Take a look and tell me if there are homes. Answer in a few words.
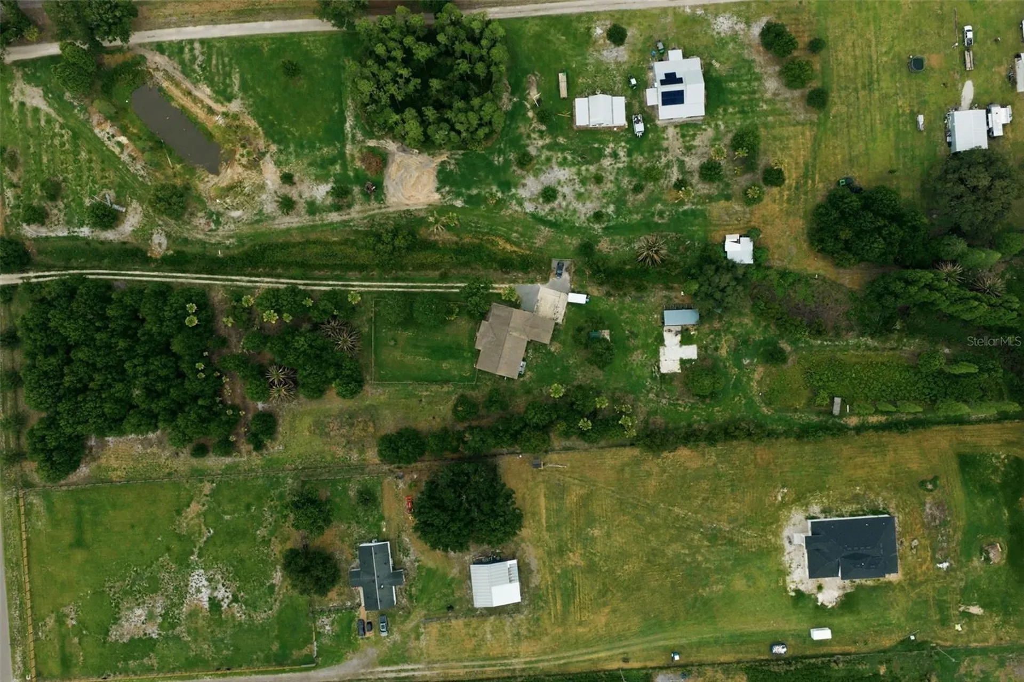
Yes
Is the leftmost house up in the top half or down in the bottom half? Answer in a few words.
bottom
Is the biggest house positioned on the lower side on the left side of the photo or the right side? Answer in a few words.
right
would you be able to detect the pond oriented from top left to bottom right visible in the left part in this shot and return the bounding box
[135,85,222,176]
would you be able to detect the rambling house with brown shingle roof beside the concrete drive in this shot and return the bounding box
[476,303,555,379]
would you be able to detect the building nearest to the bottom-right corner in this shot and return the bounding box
[802,514,898,580]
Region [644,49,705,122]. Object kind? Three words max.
house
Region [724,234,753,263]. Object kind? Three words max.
shed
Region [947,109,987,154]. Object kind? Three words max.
barn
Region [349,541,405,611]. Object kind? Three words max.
house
